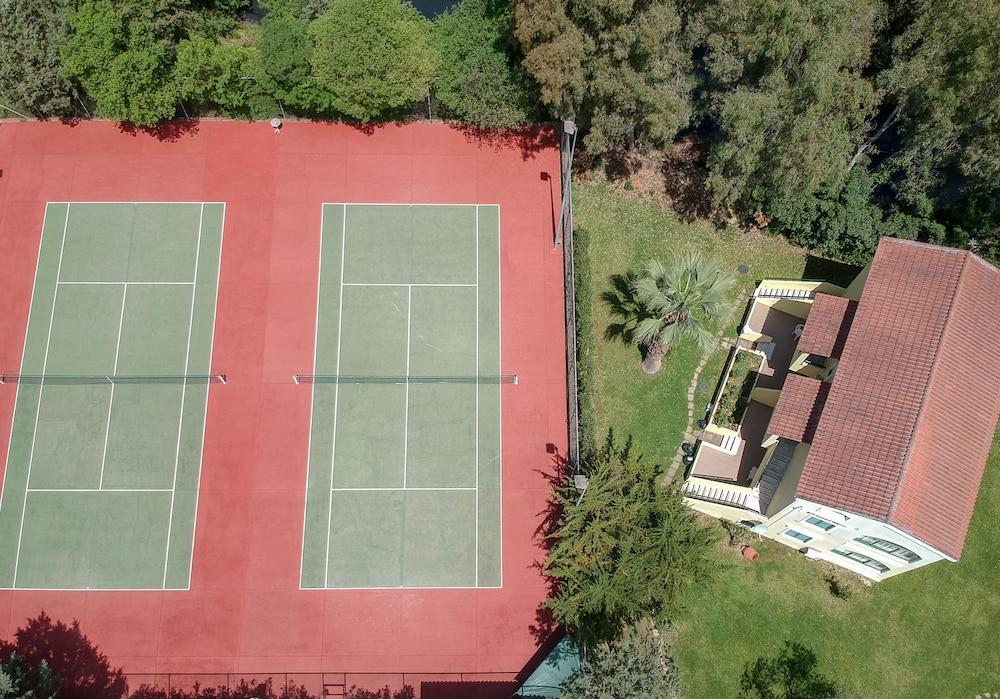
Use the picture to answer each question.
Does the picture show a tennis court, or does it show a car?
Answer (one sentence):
This aerial view contains a tennis court.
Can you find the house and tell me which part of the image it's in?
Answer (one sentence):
The house is located in the right region of the scene.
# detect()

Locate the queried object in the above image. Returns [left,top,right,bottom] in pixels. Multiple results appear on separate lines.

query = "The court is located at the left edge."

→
[0,203,225,591]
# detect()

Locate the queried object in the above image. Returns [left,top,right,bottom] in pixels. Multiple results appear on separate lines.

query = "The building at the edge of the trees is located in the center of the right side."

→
[755,234,1000,581]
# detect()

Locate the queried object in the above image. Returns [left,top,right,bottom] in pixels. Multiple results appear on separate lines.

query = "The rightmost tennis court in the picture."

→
[302,204,501,588]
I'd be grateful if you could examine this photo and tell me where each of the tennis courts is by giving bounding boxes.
[302,204,501,588]
[0,203,225,591]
